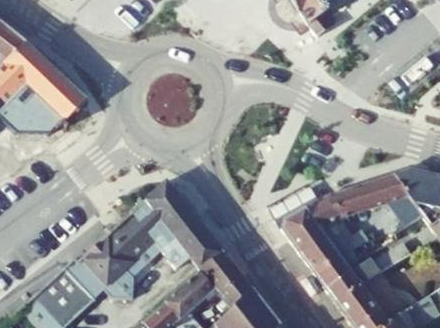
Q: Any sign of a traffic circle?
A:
Yes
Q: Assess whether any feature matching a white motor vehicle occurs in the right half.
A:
Yes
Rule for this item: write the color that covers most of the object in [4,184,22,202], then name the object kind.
white car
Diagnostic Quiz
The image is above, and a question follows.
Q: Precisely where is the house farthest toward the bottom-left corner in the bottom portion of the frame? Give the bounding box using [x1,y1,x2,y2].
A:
[30,271,96,328]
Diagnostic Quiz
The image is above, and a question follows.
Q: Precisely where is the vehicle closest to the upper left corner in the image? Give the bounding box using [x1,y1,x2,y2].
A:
[118,6,139,28]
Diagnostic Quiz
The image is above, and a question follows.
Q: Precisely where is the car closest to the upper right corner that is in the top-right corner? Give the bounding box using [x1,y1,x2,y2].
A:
[398,0,417,18]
